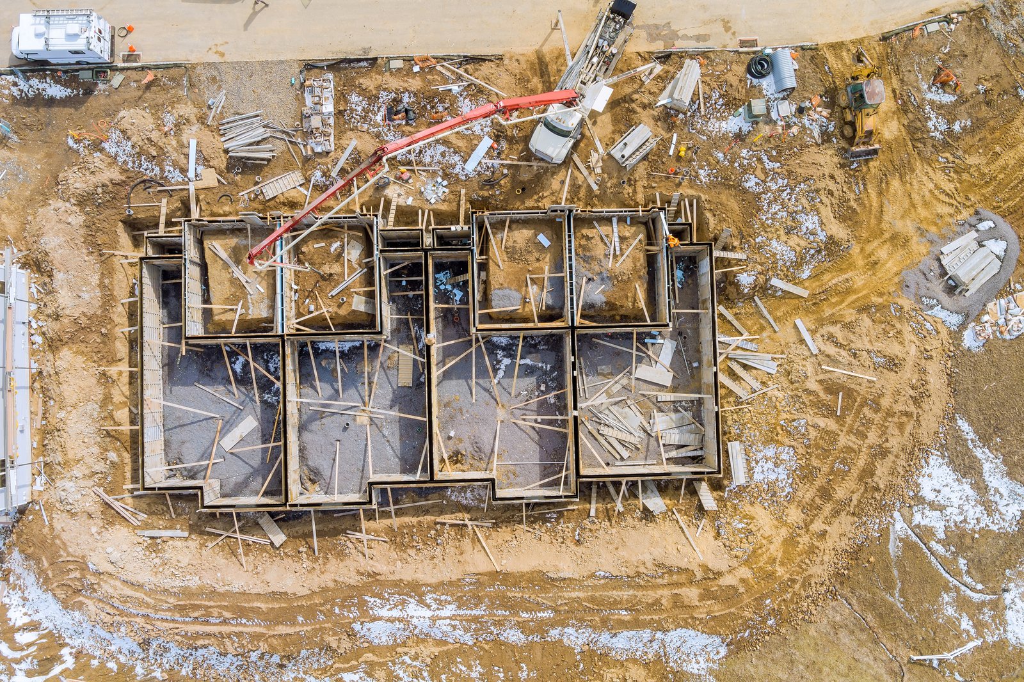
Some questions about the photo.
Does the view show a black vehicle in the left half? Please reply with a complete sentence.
No, I can find no black vehicle in the left half.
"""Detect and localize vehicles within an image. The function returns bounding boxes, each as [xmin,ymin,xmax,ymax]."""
[842,45,891,162]
[247,0,656,280]
[9,12,117,65]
